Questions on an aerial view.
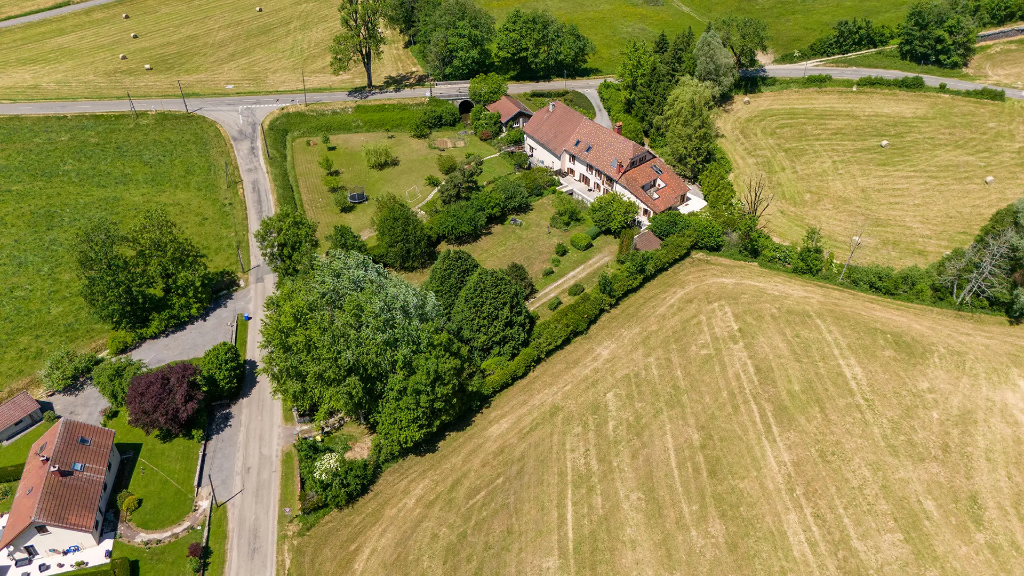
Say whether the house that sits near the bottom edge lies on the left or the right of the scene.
left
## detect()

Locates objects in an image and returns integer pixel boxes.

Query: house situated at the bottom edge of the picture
[0,416,119,558]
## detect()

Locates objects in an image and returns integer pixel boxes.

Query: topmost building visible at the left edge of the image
[0,388,44,443]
